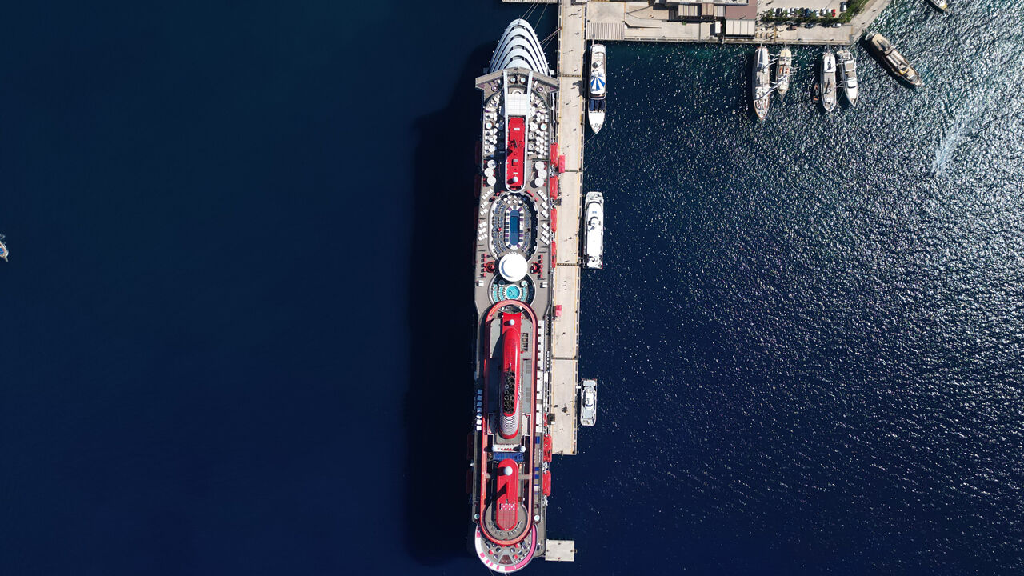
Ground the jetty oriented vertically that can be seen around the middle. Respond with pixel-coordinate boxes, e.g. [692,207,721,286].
[549,0,588,455]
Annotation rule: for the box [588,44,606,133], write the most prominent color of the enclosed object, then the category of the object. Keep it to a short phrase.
white boat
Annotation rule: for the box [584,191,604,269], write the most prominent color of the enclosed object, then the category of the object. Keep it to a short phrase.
white ship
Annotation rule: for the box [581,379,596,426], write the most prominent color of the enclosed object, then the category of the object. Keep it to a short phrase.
white boat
